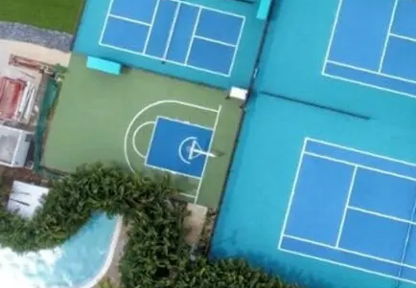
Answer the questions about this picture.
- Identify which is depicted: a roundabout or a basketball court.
basketball court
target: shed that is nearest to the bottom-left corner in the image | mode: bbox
[6,180,53,217]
